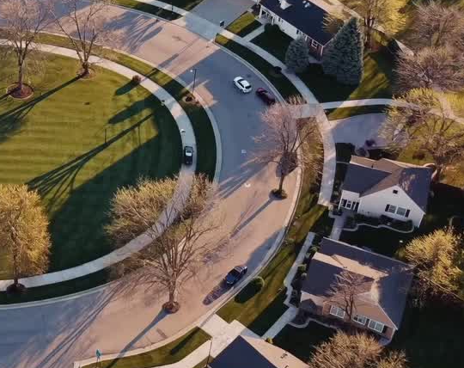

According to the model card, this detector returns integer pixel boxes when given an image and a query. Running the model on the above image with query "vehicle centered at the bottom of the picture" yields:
[221,259,253,287]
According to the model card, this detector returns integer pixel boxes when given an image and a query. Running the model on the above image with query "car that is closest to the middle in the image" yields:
[183,144,195,164]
